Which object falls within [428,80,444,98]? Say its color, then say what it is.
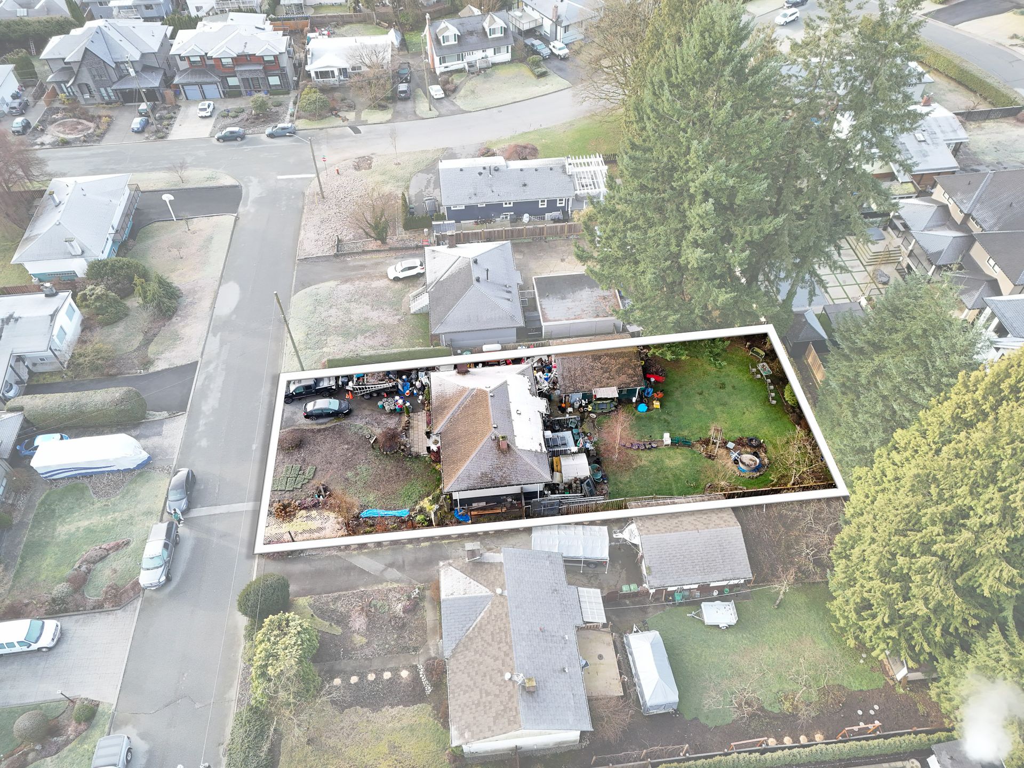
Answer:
white car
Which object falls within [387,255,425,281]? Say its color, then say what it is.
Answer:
white car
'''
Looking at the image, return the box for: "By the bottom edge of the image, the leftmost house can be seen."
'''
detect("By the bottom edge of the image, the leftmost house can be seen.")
[439,546,607,751]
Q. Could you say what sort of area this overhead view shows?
residential area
